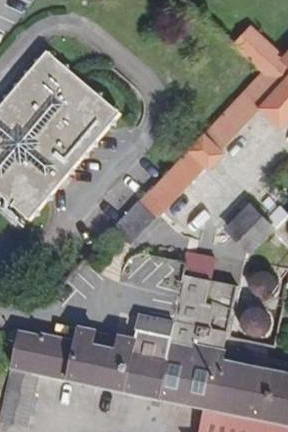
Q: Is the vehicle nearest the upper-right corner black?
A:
No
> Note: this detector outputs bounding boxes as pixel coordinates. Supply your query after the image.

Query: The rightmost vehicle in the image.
[228,136,248,156]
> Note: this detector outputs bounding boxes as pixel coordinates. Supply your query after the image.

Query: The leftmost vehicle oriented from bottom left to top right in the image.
[172,194,189,214]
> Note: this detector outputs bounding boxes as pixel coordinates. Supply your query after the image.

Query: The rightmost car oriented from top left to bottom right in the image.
[140,157,158,176]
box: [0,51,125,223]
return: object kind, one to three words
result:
building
